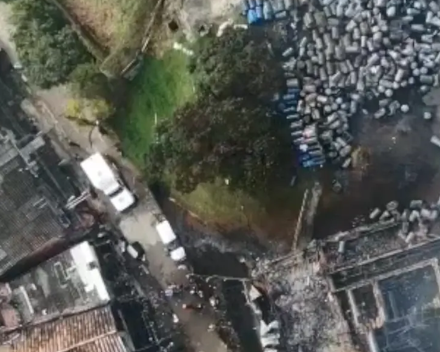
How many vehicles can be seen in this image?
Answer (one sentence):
The number of vehicles here is 2.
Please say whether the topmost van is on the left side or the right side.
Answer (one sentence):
It is on the left.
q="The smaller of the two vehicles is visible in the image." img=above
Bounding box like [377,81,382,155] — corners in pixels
[148,217,186,265]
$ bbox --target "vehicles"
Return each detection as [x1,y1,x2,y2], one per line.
[70,151,133,213]
[148,217,186,265]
